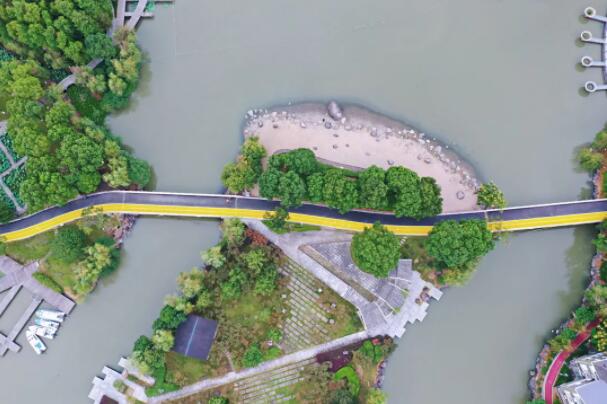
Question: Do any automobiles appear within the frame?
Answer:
No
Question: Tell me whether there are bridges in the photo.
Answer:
Yes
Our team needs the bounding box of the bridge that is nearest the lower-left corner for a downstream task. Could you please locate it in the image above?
[147,191,222,219]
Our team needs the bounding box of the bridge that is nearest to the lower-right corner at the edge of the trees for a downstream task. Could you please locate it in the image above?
[489,199,600,232]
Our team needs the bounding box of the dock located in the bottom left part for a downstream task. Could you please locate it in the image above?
[0,256,76,360]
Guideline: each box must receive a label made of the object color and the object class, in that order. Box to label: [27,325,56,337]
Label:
white boat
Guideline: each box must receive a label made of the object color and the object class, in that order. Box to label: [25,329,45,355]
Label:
white boat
